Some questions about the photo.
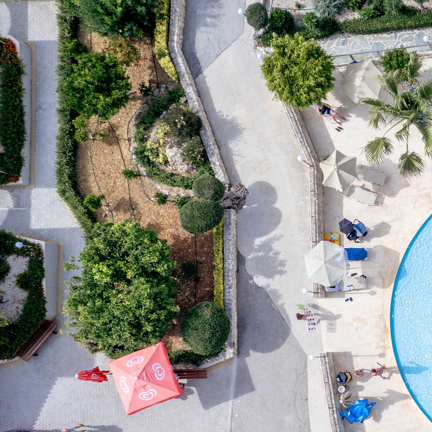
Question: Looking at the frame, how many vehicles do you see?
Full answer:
The photo contains no vehicles.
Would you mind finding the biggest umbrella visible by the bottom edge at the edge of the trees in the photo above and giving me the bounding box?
[109,343,184,416]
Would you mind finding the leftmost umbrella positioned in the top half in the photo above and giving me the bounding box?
[317,149,359,190]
